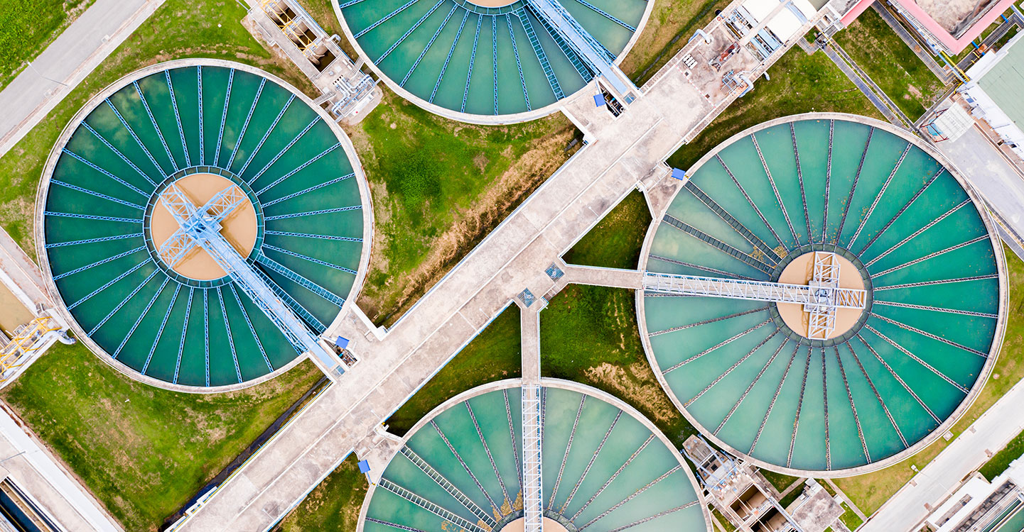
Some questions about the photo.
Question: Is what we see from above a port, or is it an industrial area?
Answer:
industrial area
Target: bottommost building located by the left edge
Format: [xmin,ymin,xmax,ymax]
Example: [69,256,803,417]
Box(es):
[0,404,117,532]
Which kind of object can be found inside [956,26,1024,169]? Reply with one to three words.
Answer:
building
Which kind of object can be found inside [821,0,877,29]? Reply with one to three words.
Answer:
building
